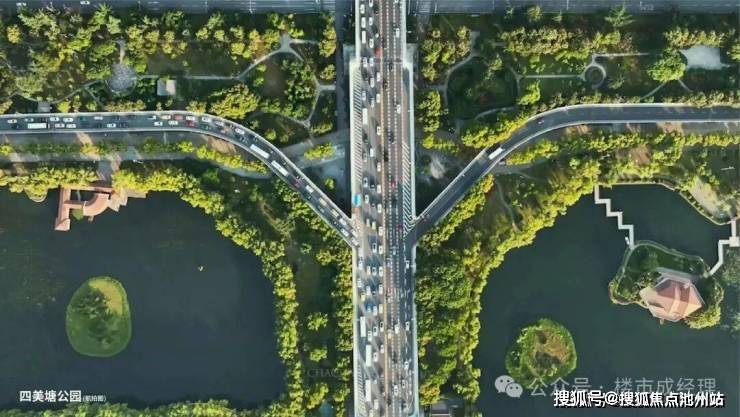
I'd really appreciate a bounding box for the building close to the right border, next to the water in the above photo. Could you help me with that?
[632,269,703,323]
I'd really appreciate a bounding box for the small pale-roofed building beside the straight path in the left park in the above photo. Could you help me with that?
[156,77,178,97]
